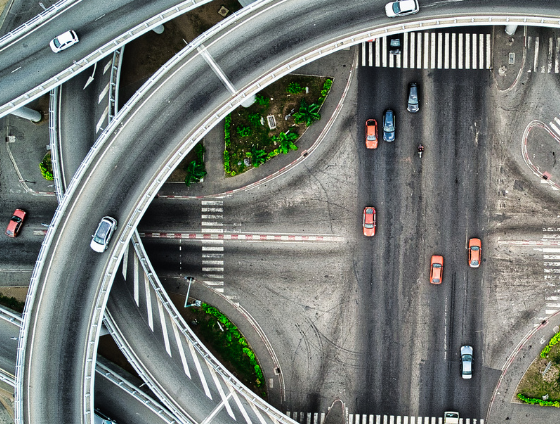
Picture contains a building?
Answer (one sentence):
No, the scene contains no building.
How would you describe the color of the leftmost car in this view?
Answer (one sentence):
In this view, the leftmost car is red.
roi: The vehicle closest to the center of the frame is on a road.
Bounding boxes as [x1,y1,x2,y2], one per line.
[362,206,376,236]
